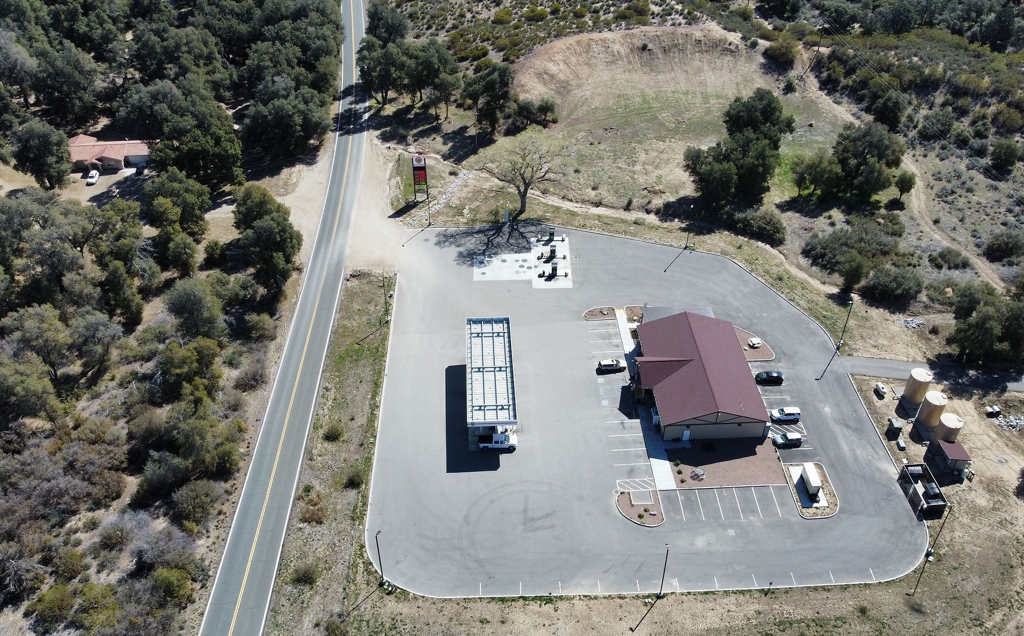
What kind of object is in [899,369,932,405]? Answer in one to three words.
water tank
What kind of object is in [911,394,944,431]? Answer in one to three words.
water tank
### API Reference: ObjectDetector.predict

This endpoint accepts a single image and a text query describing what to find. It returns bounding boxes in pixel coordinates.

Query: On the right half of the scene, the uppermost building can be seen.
[632,307,770,441]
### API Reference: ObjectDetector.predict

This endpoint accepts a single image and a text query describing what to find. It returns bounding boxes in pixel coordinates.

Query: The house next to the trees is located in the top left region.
[61,127,171,180]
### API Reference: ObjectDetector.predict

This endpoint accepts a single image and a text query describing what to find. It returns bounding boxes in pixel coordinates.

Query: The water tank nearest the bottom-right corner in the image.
[925,417,960,455]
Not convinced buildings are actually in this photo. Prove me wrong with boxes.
[937,444,970,473]
[632,307,770,441]
[61,127,171,180]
